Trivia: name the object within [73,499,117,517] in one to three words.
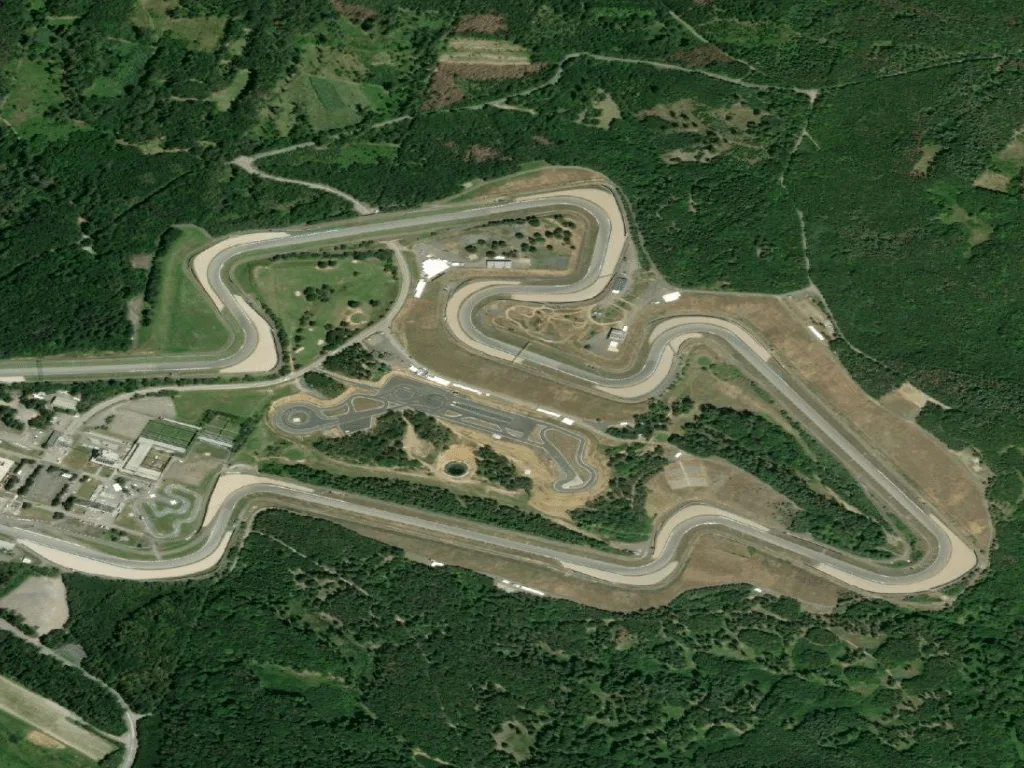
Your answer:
building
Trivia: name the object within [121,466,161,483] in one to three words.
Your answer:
building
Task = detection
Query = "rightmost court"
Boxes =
[204,414,241,441]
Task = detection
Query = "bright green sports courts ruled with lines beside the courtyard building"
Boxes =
[142,418,197,449]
